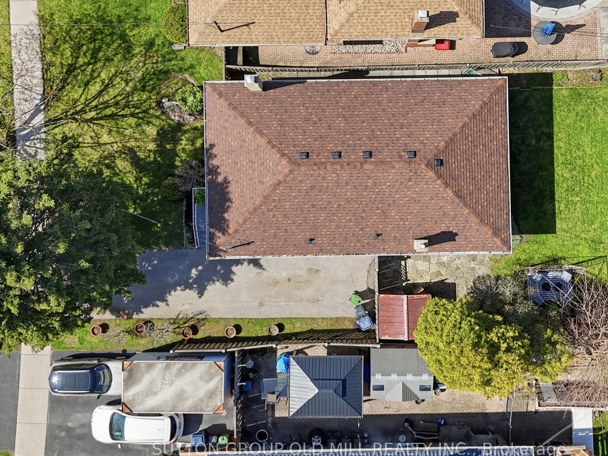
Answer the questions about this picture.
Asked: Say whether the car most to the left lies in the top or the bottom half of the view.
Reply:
bottom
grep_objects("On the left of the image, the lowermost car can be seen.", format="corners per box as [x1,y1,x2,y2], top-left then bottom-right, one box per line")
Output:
[94,398,186,445]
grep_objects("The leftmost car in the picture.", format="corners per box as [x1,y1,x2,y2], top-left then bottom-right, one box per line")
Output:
[48,355,132,399]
